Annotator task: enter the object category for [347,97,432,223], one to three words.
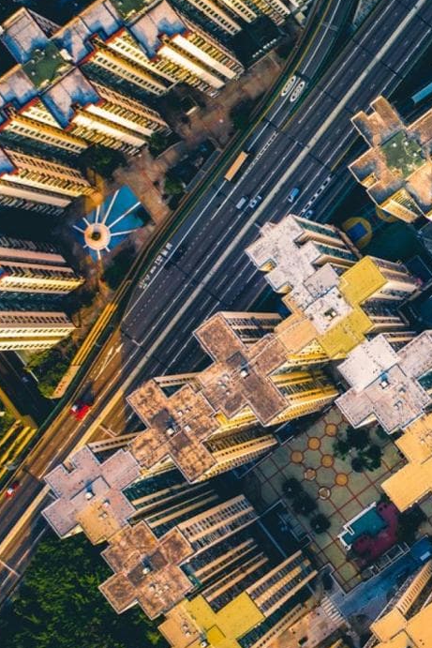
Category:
building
